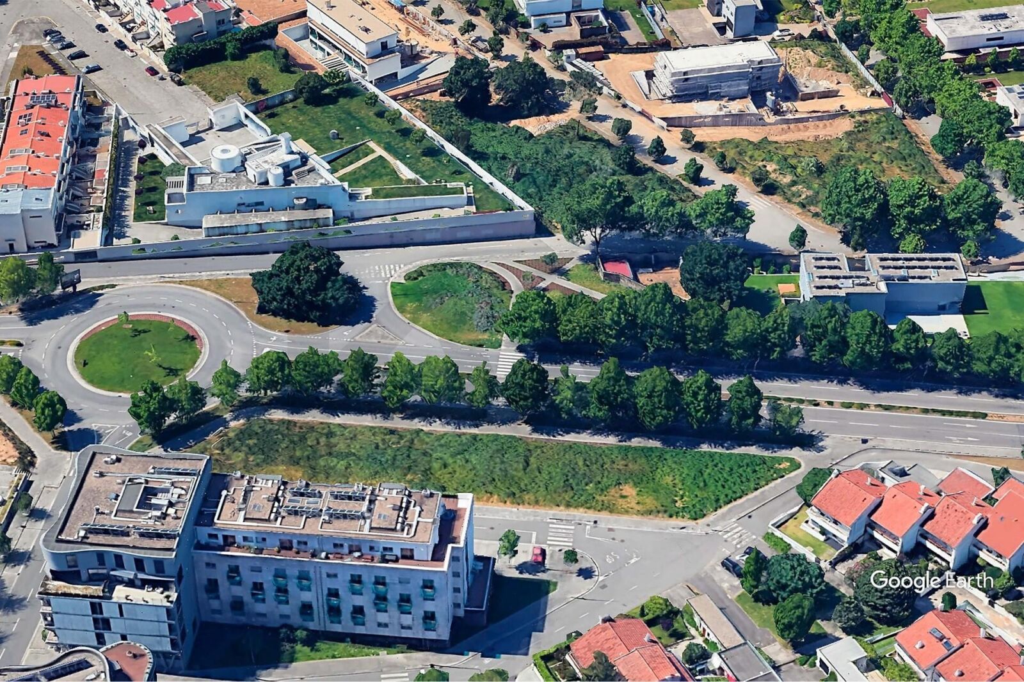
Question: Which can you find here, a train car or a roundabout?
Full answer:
I can see a roundabout in this picture.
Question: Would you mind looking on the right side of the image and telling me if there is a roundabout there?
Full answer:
No, no roundabout can be made out on the right side of the image.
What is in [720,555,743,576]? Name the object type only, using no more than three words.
car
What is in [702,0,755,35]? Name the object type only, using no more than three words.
house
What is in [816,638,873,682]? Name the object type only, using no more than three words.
building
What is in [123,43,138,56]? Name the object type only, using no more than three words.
vehicle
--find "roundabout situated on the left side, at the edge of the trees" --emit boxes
[15,286,258,430]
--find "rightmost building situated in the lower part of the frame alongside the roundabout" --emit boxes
[192,464,474,644]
